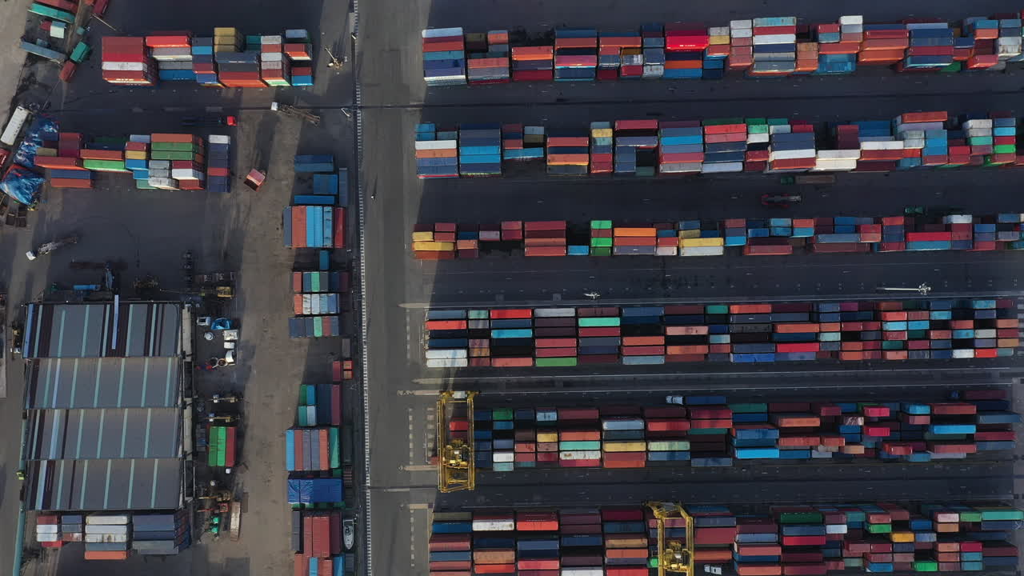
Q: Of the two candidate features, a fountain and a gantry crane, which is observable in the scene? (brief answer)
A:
gantry crane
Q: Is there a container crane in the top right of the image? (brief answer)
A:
No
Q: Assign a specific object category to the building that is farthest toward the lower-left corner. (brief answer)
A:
warehouse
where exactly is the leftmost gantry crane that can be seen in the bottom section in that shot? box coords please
[436,387,485,487]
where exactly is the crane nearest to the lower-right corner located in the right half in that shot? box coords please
[641,495,695,576]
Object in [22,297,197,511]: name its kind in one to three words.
warehouse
